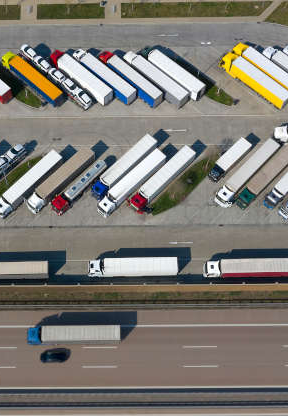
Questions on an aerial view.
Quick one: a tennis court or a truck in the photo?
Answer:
truck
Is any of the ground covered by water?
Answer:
No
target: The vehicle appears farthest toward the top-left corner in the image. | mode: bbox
[19,45,37,61]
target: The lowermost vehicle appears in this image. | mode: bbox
[42,350,68,363]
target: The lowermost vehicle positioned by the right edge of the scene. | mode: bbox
[200,259,288,278]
